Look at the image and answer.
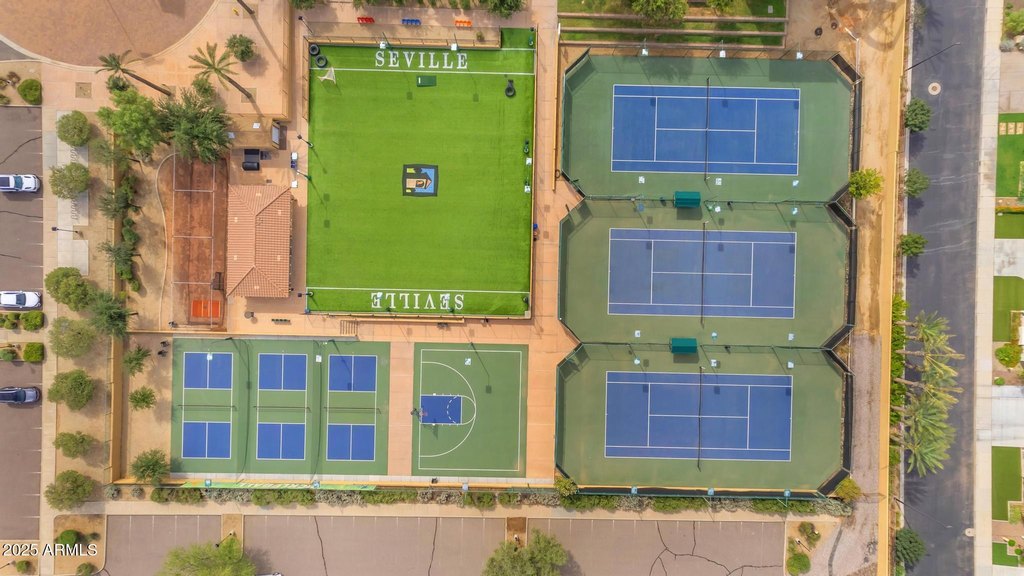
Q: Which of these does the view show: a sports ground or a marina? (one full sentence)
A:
The area seen from above is a sports ground.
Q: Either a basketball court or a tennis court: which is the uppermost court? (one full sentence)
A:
In the photo, the uppermost court shows up as a tennis court.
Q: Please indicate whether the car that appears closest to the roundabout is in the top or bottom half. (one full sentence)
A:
You can find the car that appears closest to the roundabout in the top half.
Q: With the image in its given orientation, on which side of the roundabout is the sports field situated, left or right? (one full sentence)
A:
The roundabout has the sports field on its right side.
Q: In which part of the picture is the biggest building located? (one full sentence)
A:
The biggest building is located in the left region of the scene.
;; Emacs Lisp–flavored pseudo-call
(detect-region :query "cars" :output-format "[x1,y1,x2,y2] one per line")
[0,388,39,407]
[0,290,40,310]
[0,173,40,194]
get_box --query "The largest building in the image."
[226,184,294,298]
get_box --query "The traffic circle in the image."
[0,0,225,74]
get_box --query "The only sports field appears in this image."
[306,27,536,316]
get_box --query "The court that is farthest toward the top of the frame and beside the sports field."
[564,55,851,204]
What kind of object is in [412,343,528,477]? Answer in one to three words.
basketball court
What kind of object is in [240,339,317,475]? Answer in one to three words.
sports court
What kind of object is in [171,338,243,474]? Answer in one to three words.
sports court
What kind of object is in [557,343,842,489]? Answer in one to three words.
tennis court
